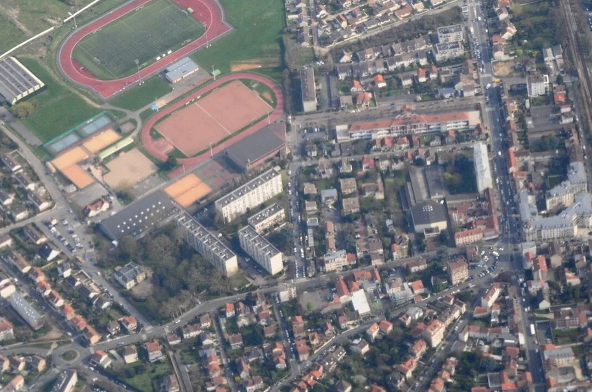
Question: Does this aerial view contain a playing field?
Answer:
Yes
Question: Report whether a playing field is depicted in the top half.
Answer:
Yes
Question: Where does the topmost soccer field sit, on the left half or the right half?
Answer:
left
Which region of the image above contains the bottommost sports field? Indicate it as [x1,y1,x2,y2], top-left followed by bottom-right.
[104,147,158,188]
